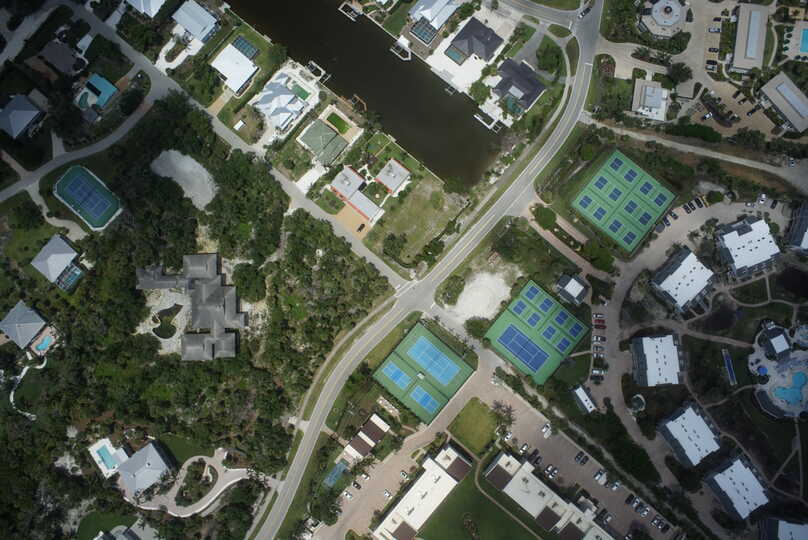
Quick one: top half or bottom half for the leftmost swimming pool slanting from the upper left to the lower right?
bottom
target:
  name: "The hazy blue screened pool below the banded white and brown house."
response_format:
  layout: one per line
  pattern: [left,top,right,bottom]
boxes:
[324,462,348,488]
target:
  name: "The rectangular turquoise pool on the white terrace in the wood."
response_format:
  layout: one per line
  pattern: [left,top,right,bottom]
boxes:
[96,444,119,471]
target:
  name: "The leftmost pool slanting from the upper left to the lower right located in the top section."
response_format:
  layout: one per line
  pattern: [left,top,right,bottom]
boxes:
[288,81,311,99]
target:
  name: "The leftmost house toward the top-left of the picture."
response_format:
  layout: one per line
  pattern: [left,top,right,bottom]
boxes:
[0,91,44,139]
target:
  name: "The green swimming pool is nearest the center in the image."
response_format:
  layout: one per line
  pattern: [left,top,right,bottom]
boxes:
[326,111,354,136]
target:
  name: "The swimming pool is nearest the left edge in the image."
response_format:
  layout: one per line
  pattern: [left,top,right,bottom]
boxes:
[35,335,53,351]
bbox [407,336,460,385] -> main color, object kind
blue tennis court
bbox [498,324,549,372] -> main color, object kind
blue tennis court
